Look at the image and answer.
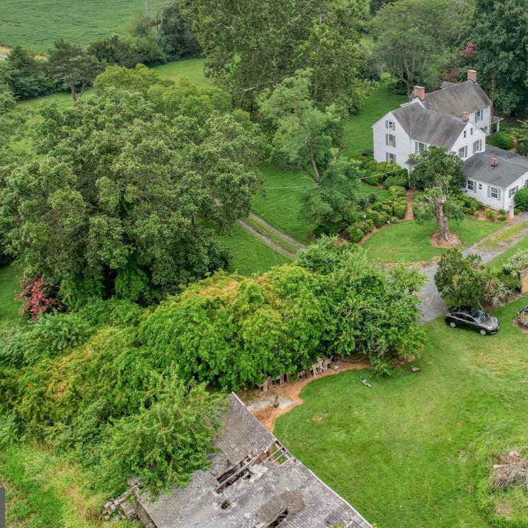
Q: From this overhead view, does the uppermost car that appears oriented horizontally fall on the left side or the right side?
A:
right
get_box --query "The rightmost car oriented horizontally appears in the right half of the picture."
[442,306,499,336]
